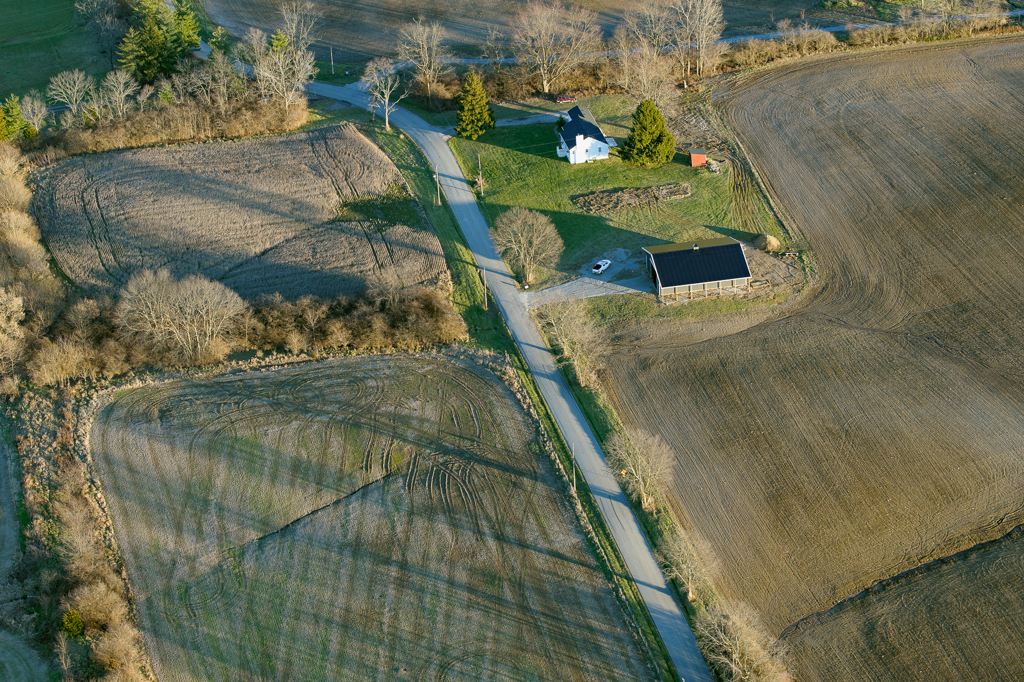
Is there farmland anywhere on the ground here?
Yes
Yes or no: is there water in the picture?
No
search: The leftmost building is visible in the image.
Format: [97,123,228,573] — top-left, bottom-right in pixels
[554,103,611,164]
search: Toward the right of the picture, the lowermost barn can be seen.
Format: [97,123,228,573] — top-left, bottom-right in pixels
[639,239,753,302]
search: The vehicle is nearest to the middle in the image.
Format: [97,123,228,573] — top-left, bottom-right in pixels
[589,259,614,273]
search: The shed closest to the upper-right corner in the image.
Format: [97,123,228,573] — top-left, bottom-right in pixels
[687,146,708,167]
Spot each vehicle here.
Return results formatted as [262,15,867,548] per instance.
[589,259,614,273]
[556,94,577,104]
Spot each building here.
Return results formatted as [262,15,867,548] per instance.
[639,239,753,302]
[554,103,611,164]
[687,146,708,167]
